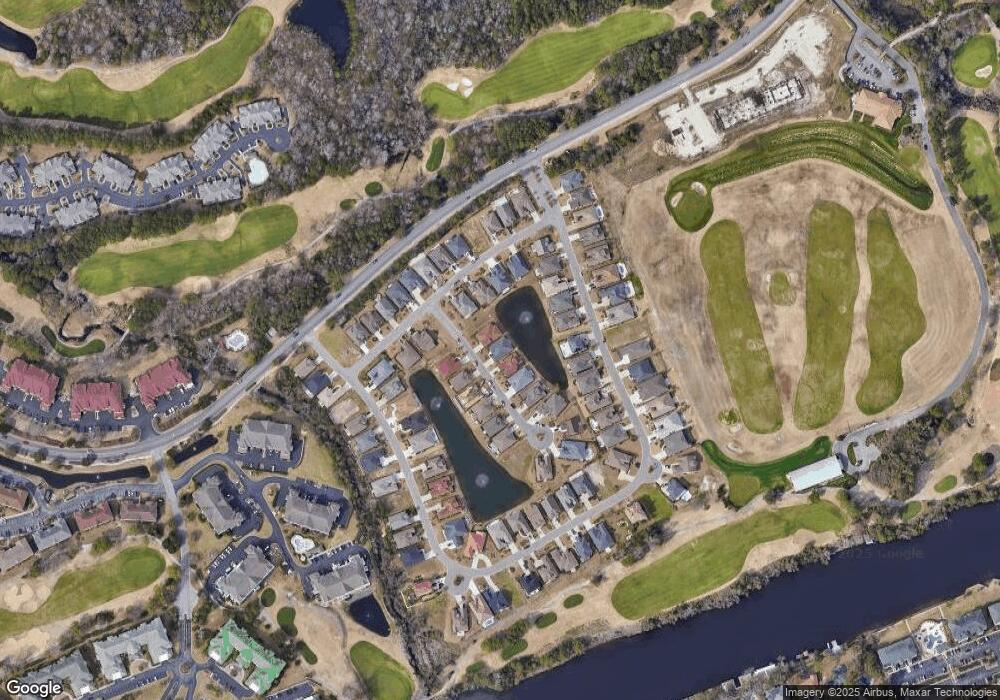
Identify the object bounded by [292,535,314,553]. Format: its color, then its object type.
white swimming pool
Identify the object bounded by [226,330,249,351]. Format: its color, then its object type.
white swimming pool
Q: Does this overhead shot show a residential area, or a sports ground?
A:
residential area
